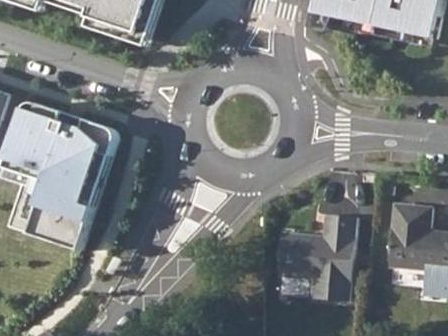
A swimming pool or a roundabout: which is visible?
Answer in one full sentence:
Of the two, only a roundabout appears.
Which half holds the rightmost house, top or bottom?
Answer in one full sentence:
The rightmost house is in the bottom half of the image.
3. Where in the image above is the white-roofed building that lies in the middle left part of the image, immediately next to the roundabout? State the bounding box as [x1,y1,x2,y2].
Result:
[0,103,118,251]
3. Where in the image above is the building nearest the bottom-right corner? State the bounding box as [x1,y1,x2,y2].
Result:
[389,216,448,306]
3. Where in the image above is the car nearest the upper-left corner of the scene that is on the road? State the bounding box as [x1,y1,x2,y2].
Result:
[26,62,49,76]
